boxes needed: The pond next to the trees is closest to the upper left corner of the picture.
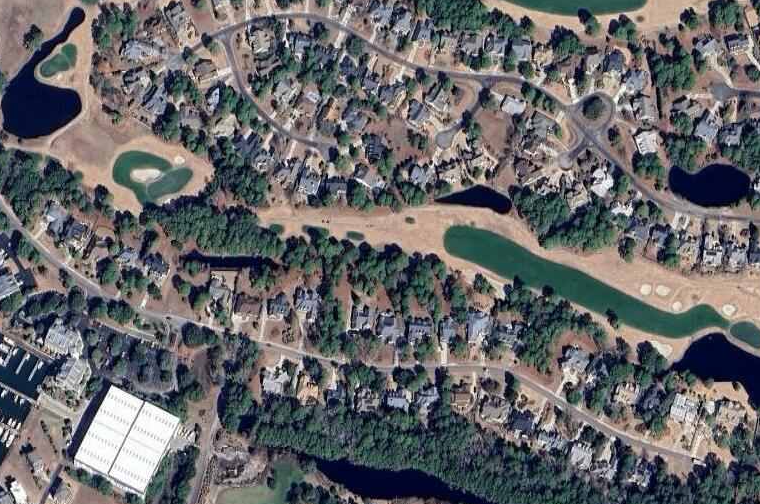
[0,7,85,139]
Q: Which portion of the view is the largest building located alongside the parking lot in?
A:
bottom left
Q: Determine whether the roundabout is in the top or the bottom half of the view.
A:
top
